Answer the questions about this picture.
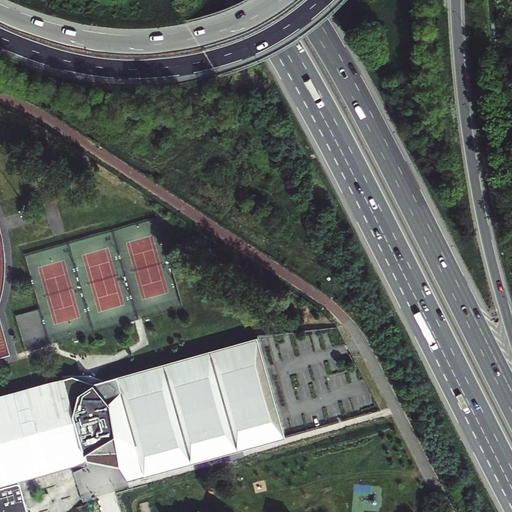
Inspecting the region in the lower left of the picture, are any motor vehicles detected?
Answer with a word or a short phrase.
No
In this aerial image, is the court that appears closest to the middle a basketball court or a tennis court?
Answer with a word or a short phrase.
tennis court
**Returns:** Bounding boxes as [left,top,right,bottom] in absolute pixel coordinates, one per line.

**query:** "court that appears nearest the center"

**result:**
[114,218,182,316]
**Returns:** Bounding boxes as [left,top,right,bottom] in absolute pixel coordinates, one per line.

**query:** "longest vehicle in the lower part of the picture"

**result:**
[414,311,440,351]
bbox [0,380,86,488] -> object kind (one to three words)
building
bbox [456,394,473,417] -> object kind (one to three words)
vehicle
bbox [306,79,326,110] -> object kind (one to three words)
vehicle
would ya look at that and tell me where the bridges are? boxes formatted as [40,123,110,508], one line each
[186,0,344,78]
